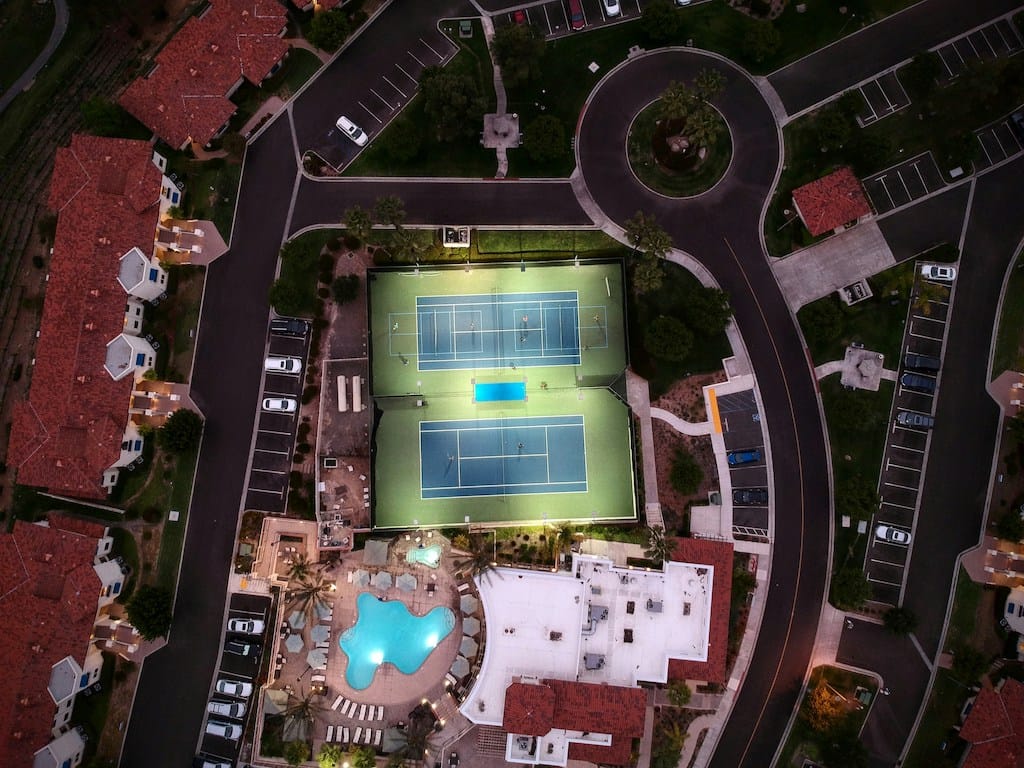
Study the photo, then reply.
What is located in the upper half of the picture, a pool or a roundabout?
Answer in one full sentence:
Looking in the upper half of the picture, you will find a roundabout.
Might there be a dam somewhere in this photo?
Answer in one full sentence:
No, the scene contains no dam.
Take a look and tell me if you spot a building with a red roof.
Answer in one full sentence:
Yes, looking at the shot, I can spot a building with a red roof.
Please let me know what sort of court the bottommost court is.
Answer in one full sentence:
The bottommost court is a tennis court.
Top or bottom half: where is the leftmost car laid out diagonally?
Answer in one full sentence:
It is in the top half that the leftmost car laid out diagonally appears.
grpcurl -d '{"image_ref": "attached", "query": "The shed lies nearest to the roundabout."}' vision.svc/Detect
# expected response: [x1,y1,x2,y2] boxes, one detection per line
[788,166,872,238]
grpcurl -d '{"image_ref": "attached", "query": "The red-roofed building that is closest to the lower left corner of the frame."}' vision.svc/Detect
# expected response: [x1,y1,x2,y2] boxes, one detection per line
[0,511,124,768]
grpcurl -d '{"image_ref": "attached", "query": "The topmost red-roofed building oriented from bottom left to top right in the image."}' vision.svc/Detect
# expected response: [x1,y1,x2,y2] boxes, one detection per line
[120,0,314,155]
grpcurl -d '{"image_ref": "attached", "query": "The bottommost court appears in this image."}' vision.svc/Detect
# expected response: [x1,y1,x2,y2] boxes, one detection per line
[373,387,636,527]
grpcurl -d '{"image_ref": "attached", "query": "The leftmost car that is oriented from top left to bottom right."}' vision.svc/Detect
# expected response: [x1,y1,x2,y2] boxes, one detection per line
[335,115,368,147]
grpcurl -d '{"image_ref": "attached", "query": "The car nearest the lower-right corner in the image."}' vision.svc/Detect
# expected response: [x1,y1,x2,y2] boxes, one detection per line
[874,526,909,543]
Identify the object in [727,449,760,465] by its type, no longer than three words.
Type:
car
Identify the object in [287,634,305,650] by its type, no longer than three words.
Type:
umbrella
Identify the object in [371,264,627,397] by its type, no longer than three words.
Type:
tennis court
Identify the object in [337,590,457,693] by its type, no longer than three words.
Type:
swimming pool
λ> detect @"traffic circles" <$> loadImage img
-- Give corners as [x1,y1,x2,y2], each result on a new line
[580,47,781,248]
